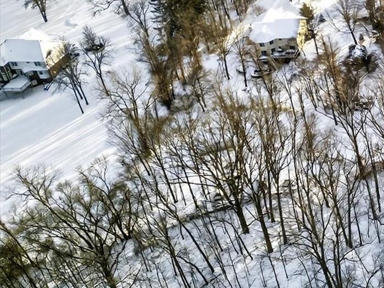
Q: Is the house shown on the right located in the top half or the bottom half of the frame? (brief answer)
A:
top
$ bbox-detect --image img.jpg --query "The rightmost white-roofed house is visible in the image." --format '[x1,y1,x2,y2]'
[245,9,307,67]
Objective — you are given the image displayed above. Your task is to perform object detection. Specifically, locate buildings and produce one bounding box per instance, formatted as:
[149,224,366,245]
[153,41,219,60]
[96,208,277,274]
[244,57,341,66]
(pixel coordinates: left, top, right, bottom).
[0,27,75,95]
[245,9,307,67]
